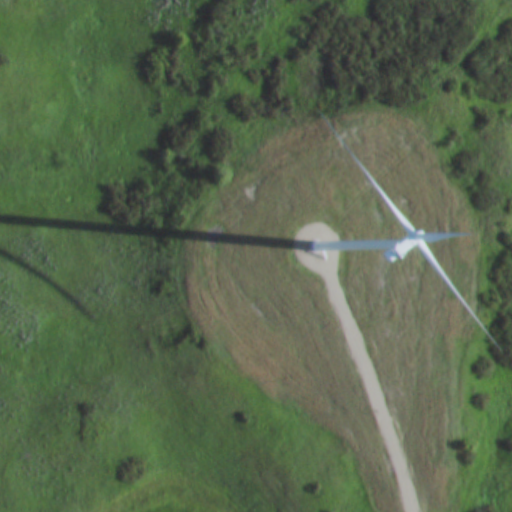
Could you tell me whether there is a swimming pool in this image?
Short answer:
No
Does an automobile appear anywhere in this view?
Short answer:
No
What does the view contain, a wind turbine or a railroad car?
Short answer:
wind turbine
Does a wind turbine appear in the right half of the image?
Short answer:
Yes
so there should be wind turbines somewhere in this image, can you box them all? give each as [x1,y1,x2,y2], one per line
[312,110,500,350]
